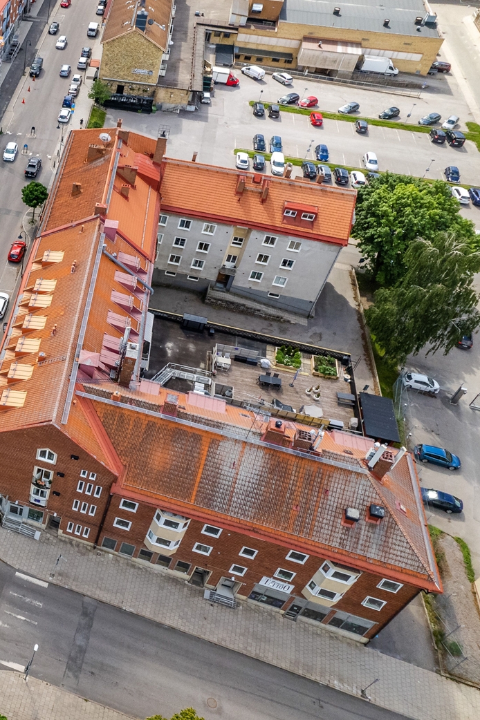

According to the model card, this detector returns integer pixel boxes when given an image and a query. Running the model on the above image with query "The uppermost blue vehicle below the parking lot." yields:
[409,440,466,474]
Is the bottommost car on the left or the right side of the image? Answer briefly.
right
